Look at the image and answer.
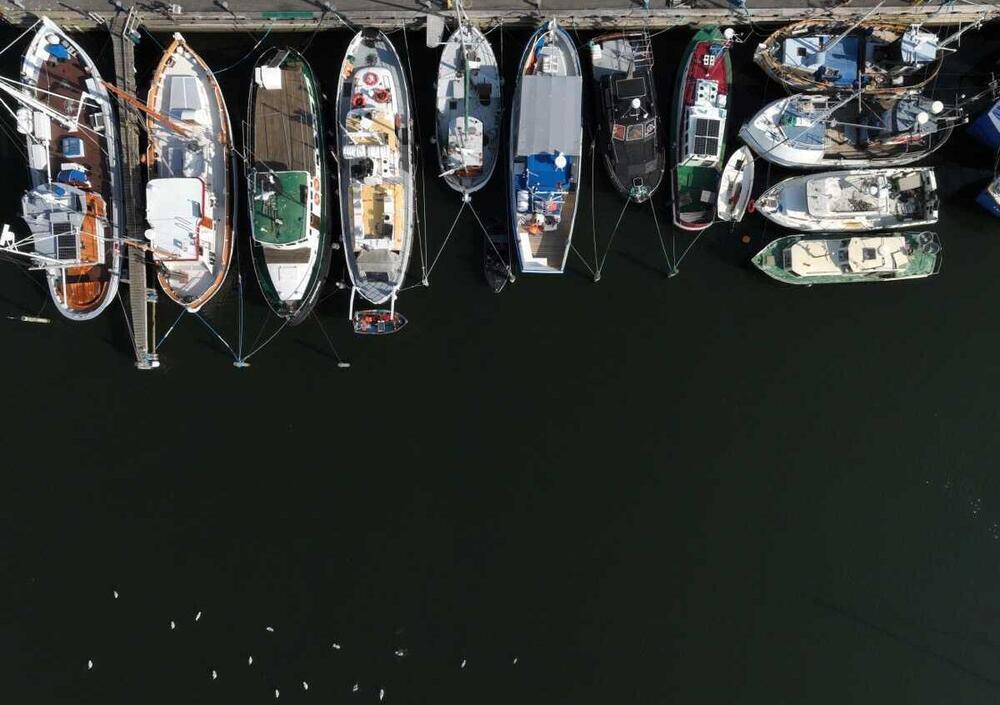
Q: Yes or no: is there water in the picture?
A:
Yes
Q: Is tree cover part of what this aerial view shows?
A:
No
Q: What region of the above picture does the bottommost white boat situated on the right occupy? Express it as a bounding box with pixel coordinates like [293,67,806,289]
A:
[747,232,942,285]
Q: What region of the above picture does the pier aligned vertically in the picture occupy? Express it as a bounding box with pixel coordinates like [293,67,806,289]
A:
[112,6,163,368]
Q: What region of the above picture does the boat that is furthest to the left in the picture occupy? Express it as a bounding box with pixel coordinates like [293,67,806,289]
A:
[0,16,131,321]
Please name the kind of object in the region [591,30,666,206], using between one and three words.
boat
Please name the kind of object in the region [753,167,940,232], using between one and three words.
boat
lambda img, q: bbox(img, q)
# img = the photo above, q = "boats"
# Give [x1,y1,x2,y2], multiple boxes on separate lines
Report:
[955,179,1000,215]
[0,16,131,321]
[753,167,940,232]
[437,0,500,205]
[591,30,666,206]
[668,25,752,231]
[509,17,583,272]
[747,232,942,285]
[107,32,241,311]
[743,0,1000,97]
[236,47,331,319]
[354,310,408,335]
[947,98,1000,150]
[337,27,417,320]
[718,149,755,227]
[731,76,996,169]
